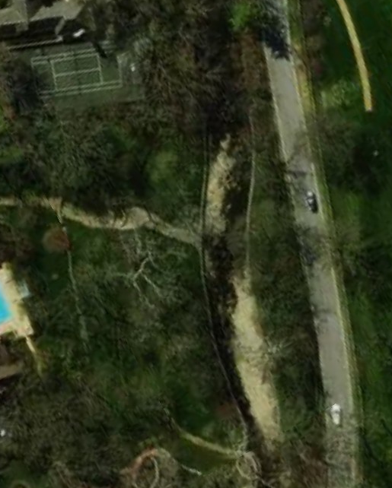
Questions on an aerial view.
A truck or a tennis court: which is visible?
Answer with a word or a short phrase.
tennis court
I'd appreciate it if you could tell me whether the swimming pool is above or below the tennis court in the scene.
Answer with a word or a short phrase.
below it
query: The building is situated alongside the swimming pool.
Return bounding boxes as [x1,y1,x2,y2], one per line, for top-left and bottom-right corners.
[0,342,19,384]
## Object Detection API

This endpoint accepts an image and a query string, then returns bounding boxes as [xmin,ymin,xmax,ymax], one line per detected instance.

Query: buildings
[0,0,81,38]
[0,342,19,384]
